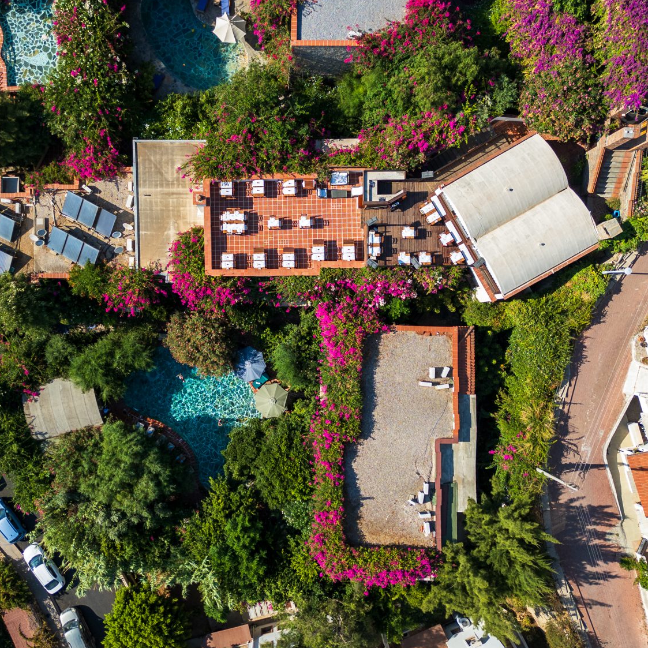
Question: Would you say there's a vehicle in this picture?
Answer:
Yes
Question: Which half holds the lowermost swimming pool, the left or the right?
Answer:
left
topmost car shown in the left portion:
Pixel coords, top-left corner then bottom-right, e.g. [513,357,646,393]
[0,493,27,546]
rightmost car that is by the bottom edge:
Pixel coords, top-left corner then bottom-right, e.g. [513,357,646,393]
[60,602,98,648]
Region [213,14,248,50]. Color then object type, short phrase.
white umbrella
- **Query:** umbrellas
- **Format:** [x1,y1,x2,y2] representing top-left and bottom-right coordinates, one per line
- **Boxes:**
[235,347,268,380]
[254,381,289,417]
[213,14,248,50]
